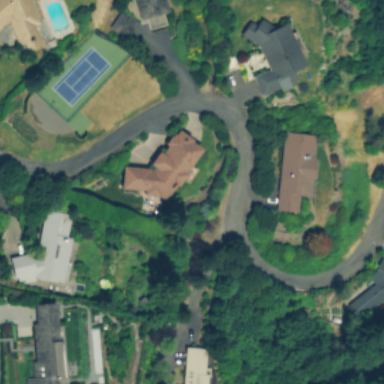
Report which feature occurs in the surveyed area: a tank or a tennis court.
tennis court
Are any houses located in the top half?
Yes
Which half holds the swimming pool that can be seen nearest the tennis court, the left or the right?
left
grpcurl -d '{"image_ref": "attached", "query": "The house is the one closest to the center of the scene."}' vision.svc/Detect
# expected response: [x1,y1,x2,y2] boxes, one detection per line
[123,131,206,199]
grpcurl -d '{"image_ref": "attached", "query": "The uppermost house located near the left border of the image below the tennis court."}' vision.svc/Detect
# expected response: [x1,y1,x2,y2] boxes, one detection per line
[11,212,72,284]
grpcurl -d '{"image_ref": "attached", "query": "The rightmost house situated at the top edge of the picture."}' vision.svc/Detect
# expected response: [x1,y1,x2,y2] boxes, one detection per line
[242,18,308,96]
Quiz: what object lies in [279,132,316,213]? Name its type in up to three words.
house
